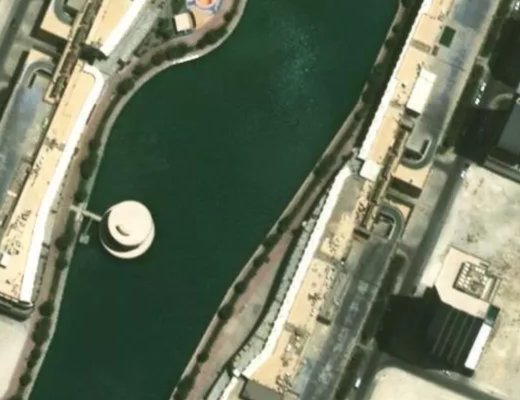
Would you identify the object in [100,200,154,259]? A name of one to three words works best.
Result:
building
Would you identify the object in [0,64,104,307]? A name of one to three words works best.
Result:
building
